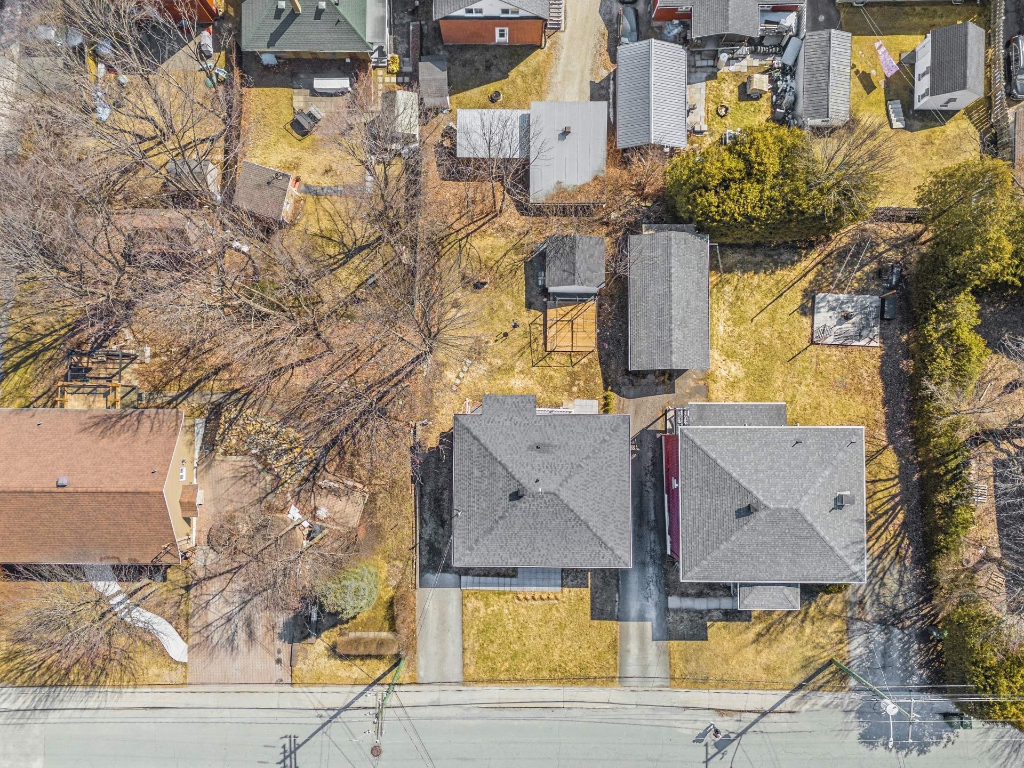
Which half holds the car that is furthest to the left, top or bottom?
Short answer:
top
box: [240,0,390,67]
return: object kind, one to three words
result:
building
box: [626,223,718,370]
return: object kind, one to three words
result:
building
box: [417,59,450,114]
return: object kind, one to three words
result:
shed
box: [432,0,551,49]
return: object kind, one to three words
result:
house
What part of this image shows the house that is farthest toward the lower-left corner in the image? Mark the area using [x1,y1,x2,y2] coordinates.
[0,409,204,564]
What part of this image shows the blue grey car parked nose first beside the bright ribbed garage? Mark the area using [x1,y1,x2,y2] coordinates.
[612,0,639,58]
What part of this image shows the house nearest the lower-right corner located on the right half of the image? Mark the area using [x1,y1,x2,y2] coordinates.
[660,403,868,611]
